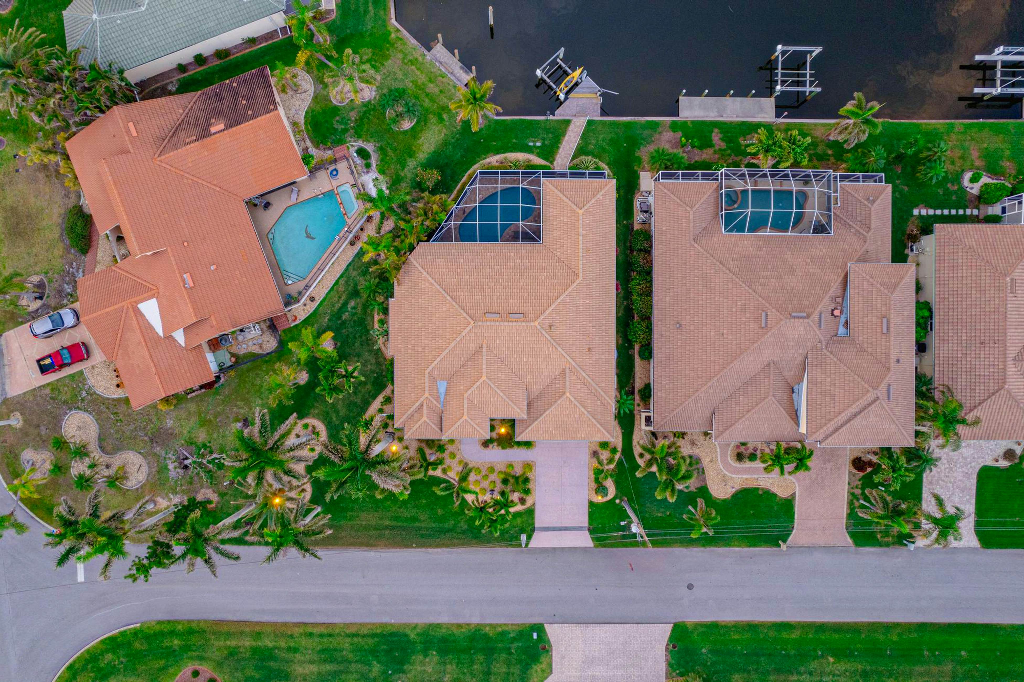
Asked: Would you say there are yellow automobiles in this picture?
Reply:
No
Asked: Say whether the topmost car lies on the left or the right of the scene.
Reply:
left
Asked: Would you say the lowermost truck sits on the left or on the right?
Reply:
left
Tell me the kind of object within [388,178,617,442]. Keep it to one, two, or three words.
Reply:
house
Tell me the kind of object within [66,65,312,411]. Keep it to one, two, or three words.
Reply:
house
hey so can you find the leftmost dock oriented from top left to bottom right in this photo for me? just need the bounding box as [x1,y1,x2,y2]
[430,43,474,85]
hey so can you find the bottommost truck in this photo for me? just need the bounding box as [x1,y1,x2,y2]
[28,343,88,378]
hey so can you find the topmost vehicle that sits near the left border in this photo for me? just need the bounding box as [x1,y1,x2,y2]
[23,307,78,338]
